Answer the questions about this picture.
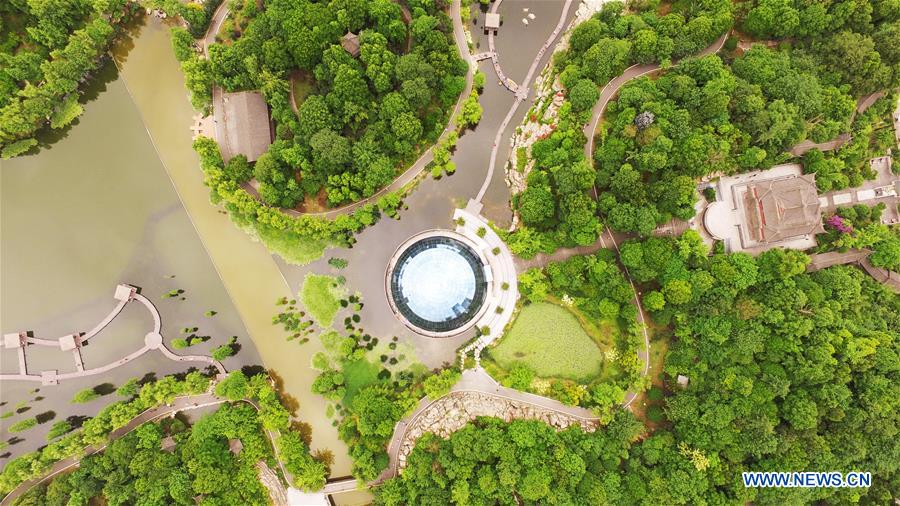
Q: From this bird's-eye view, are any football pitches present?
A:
No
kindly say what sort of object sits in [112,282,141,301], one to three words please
building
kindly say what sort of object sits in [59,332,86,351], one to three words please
building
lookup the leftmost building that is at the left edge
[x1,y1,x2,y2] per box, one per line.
[6,331,34,349]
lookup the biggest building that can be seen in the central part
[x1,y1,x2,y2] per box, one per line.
[385,230,494,338]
